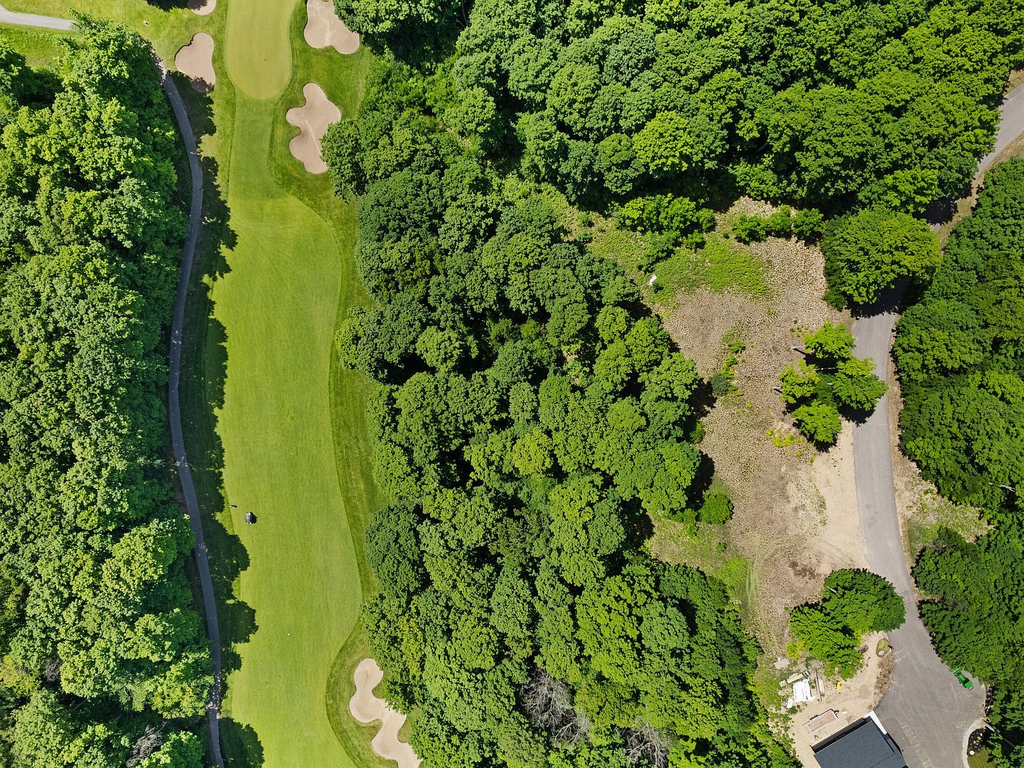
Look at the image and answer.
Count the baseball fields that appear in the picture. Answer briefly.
0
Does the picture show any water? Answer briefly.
No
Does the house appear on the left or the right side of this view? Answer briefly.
right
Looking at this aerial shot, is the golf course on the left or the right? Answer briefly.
left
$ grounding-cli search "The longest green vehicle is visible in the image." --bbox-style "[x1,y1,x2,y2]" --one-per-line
[953,668,974,688]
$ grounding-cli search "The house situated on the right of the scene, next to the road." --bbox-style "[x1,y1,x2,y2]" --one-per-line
[813,717,905,768]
